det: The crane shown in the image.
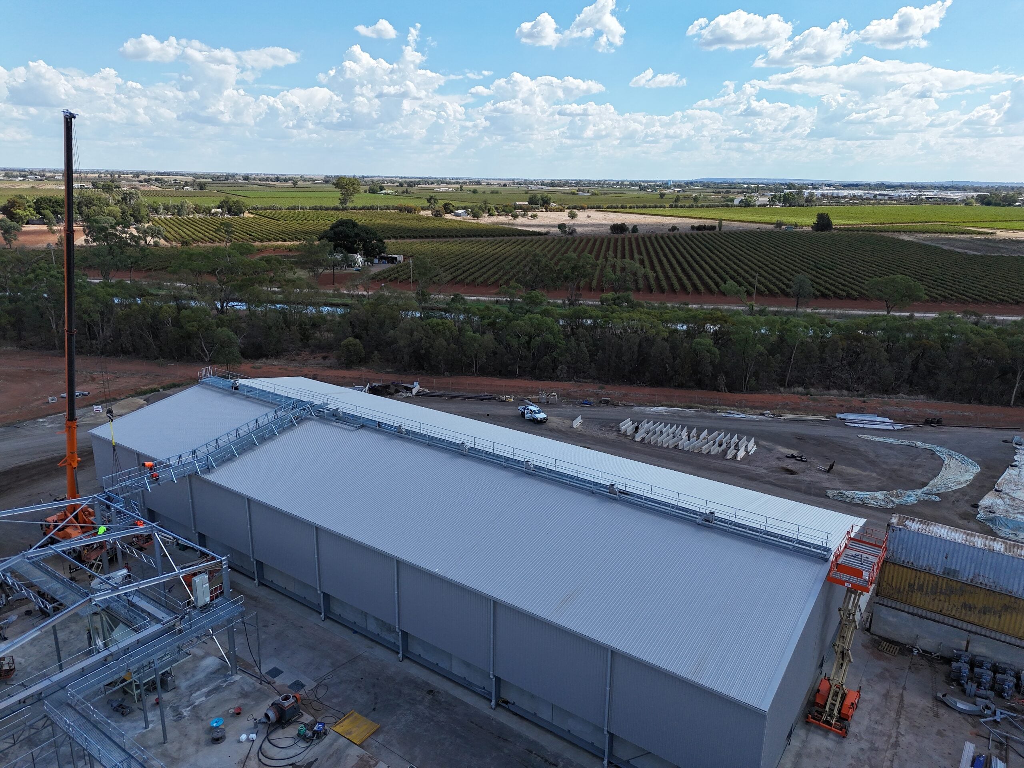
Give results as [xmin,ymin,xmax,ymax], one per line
[25,104,132,577]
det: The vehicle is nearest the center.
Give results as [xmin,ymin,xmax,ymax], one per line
[518,399,551,424]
